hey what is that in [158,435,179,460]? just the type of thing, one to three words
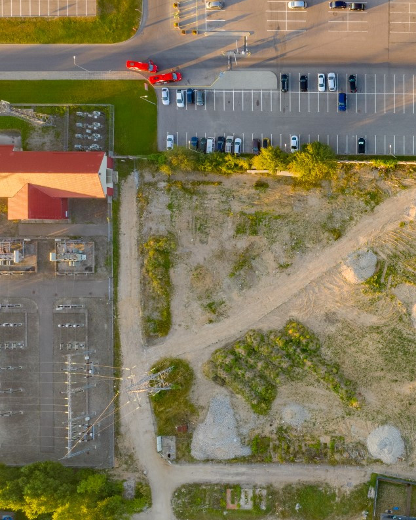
building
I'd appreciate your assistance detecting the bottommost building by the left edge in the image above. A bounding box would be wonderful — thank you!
[0,143,119,226]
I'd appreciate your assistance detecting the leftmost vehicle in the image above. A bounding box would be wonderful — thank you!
[126,59,155,73]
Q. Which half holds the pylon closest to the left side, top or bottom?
top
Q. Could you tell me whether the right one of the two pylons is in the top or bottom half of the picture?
bottom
